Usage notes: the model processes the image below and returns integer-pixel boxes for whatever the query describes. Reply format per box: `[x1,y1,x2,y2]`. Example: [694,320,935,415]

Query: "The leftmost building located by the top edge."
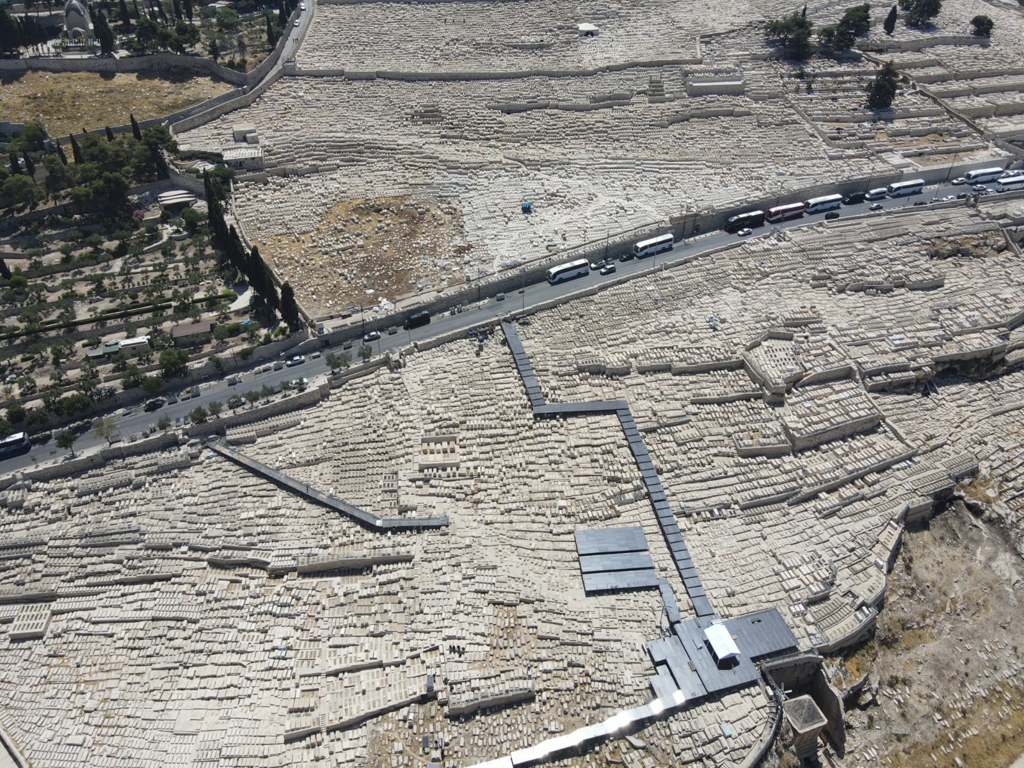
[60,3,91,54]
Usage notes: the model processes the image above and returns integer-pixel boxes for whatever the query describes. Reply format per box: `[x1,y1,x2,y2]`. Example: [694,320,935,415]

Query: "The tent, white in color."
[702,625,741,667]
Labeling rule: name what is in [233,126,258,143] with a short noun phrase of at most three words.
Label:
house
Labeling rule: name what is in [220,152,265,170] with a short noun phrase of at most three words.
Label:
house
